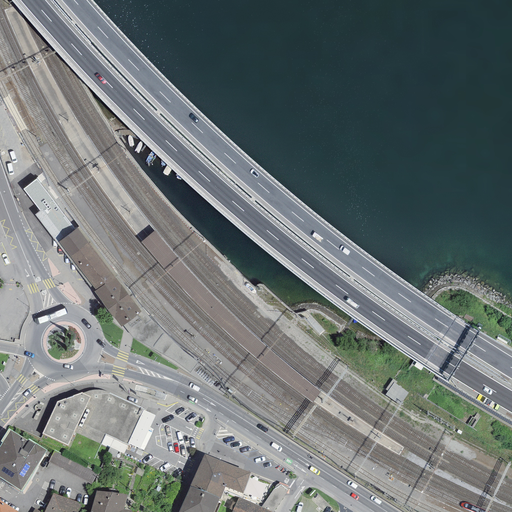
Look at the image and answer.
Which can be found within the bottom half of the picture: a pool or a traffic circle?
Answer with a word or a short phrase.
traffic circle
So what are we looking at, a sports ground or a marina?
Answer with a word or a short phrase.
marina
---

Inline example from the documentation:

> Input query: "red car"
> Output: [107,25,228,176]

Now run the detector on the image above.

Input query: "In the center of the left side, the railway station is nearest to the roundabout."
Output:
[57,228,140,326]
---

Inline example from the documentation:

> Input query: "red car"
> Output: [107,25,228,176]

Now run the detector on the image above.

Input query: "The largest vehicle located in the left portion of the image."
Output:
[36,307,68,324]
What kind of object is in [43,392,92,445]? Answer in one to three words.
building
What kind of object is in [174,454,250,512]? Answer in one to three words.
house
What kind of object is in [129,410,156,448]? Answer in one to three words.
building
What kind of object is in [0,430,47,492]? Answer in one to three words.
house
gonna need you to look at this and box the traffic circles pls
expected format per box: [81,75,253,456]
[22,300,104,382]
